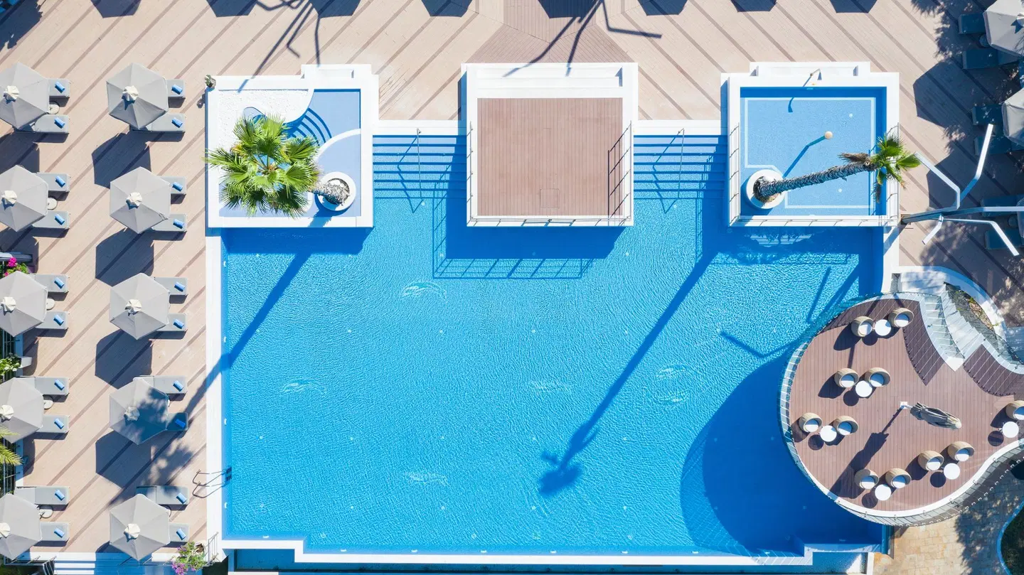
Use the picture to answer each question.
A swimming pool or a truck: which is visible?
swimming pool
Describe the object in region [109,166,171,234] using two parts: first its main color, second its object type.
white umbrella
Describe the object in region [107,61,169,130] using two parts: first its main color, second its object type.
white umbrella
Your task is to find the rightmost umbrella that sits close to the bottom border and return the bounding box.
[109,493,171,562]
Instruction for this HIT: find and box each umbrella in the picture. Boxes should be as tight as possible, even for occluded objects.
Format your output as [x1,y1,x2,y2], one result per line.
[0,270,57,338]
[0,376,54,445]
[107,61,169,130]
[110,272,171,340]
[0,492,52,561]
[992,90,1024,149]
[109,493,171,562]
[0,164,58,233]
[0,61,59,130]
[976,0,1024,58]
[108,376,170,445]
[109,166,171,234]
